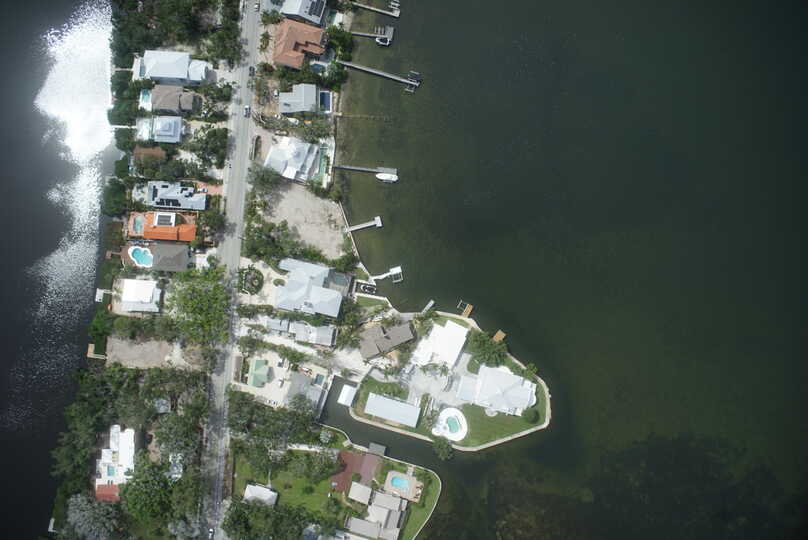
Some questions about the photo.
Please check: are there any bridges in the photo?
No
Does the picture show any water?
Yes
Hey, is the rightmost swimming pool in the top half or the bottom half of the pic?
bottom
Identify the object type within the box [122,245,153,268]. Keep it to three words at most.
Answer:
swimming pool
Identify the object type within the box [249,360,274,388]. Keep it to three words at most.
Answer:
building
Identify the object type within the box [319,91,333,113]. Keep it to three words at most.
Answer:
swimming pool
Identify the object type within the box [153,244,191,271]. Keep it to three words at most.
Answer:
house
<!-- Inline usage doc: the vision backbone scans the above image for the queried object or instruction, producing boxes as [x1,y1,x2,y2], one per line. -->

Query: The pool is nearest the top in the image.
[327,9,343,27]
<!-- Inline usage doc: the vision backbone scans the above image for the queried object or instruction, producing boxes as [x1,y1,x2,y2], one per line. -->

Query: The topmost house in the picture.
[281,0,334,29]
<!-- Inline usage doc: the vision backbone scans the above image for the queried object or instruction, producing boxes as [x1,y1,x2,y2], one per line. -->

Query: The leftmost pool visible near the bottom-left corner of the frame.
[96,459,133,484]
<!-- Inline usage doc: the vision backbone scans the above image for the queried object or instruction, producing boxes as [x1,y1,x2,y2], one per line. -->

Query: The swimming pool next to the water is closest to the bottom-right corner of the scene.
[432,407,466,441]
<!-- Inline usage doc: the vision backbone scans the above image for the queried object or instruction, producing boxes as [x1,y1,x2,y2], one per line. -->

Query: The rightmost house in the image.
[473,365,535,417]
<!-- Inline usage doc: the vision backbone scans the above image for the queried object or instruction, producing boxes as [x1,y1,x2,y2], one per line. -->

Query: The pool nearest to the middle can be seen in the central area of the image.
[323,267,357,298]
